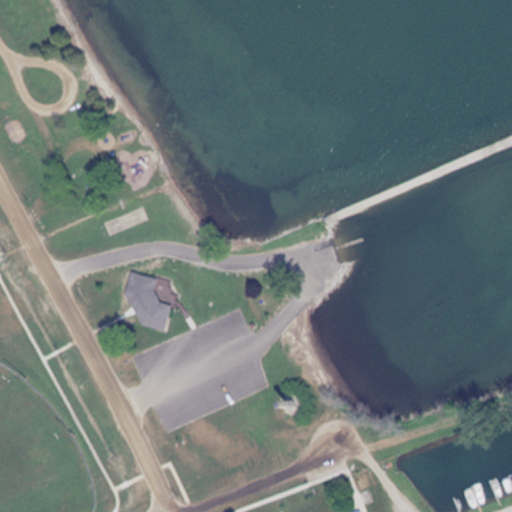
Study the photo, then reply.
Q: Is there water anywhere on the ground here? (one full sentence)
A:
Yes, there's water in this view.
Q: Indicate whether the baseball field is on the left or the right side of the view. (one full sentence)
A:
It is on the left.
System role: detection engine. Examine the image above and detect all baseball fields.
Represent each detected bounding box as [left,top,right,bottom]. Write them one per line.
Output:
[0,362,97,512]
